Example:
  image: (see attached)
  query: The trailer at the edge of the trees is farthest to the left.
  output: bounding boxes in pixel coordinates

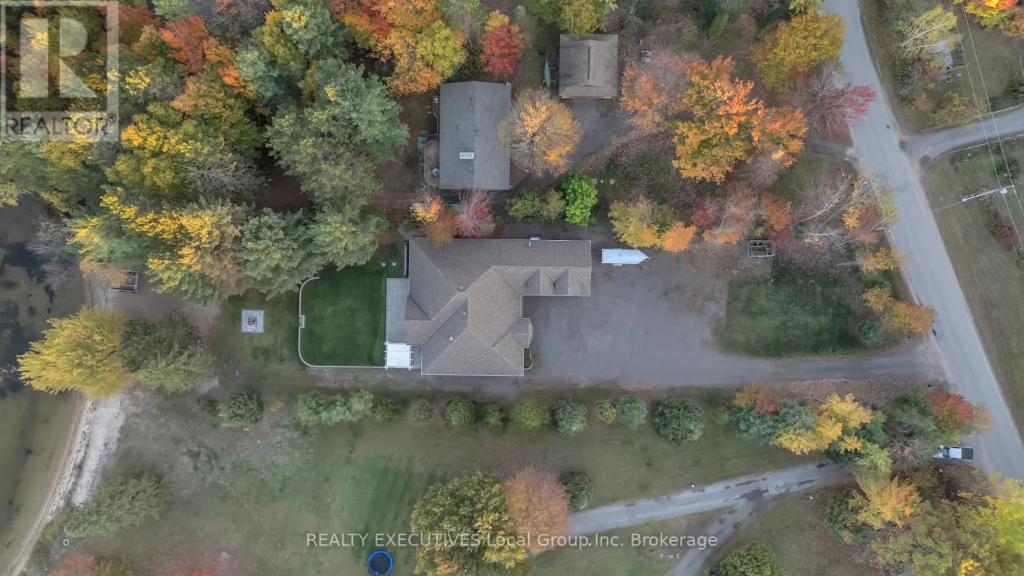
[600,248,652,265]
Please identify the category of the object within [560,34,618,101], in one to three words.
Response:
building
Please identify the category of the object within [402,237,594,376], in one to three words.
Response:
house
